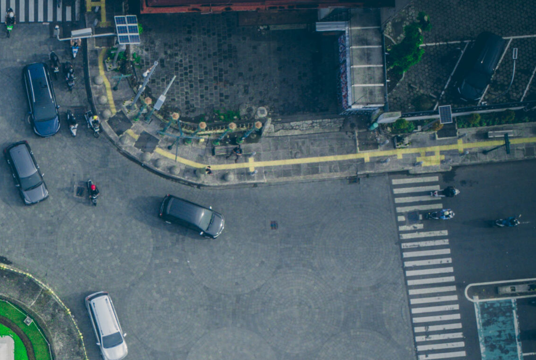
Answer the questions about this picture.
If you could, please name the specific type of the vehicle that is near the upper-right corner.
automobile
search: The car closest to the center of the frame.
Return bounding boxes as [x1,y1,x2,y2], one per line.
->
[158,193,222,240]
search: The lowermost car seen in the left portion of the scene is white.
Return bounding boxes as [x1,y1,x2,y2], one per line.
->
[82,288,126,360]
